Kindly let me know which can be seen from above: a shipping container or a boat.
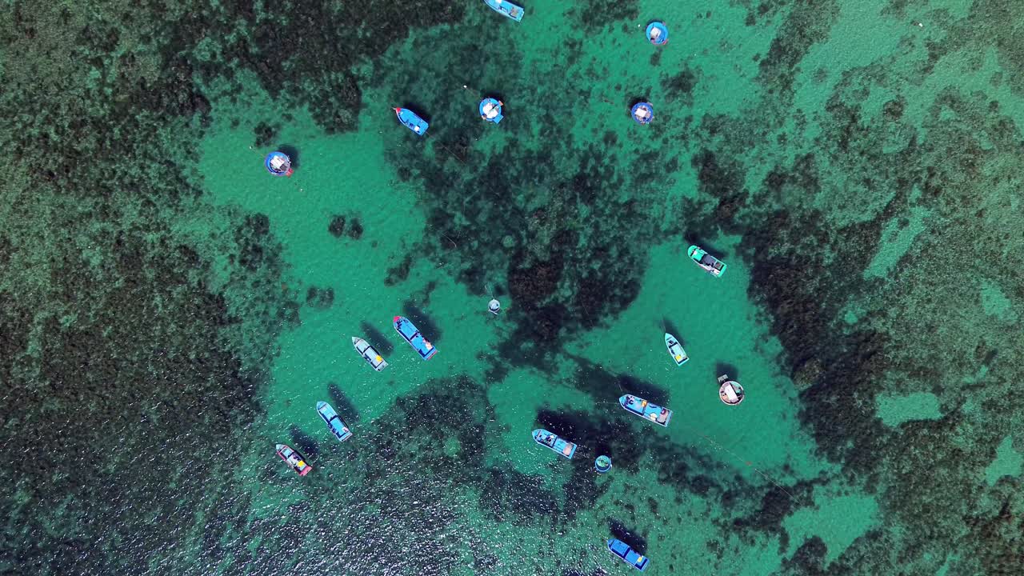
boat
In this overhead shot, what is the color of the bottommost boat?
blue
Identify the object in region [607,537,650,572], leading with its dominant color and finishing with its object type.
blue boat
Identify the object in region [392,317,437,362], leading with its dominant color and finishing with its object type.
blue boat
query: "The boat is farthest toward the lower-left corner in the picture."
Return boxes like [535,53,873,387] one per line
[275,444,312,478]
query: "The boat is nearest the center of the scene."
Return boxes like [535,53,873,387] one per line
[488,299,500,312]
